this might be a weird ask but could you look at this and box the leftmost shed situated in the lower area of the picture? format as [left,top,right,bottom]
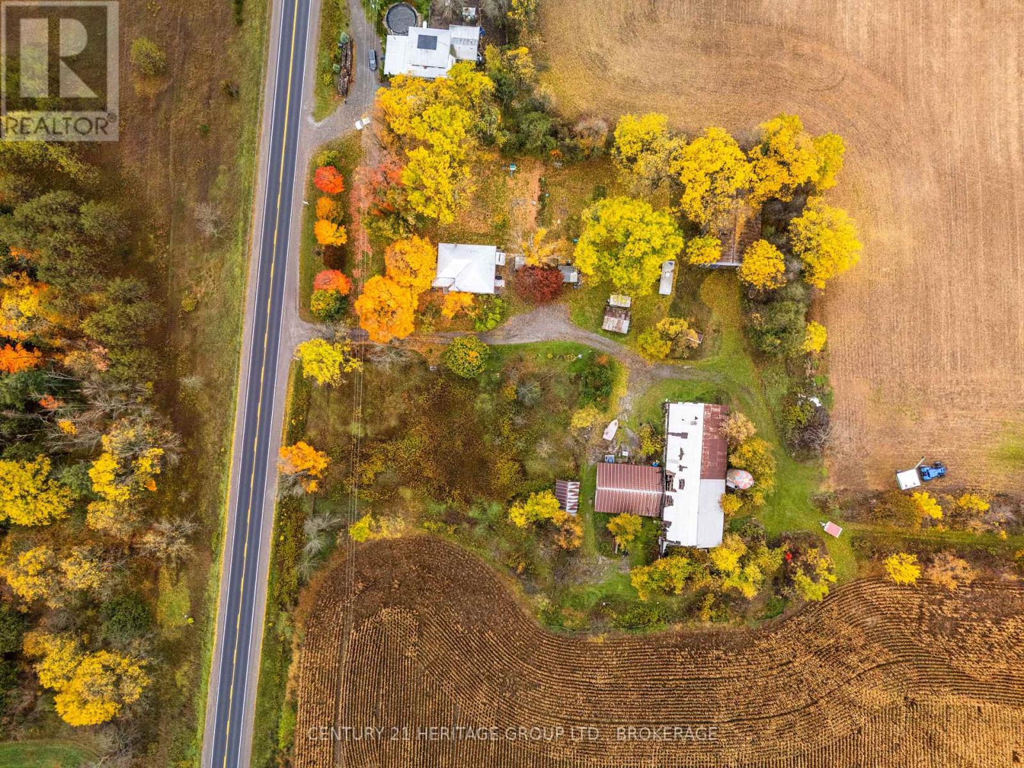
[556,480,578,515]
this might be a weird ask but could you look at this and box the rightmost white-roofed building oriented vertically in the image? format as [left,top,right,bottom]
[657,400,730,561]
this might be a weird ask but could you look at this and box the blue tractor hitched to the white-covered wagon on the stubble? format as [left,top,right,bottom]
[919,463,950,482]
